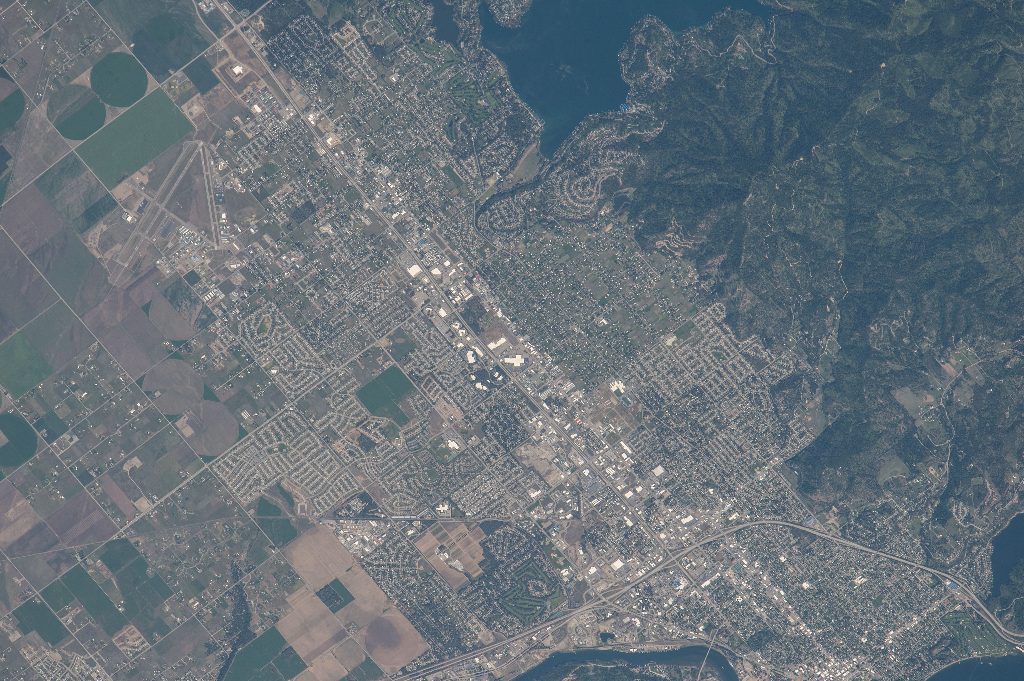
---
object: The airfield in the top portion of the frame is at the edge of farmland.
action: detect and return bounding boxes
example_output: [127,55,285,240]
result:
[95,130,243,285]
